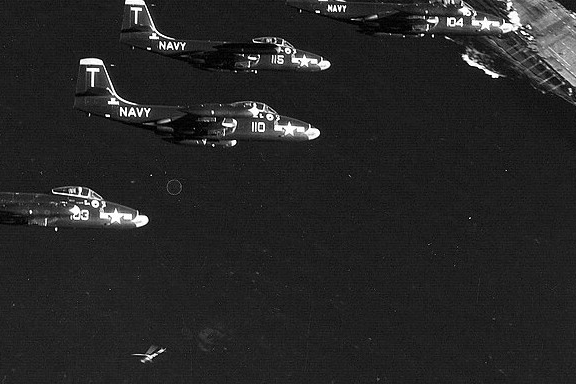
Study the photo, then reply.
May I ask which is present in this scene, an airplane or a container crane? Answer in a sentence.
The image shows an airplane.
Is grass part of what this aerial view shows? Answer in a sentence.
No, there's no grass in this view.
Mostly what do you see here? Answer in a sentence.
The bulk of the photo consists of water.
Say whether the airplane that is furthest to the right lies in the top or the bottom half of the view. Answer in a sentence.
It is in the top half that the airplane that is furthest to the right appears.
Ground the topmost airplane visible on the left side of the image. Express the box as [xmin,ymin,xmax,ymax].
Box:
[119,0,331,74]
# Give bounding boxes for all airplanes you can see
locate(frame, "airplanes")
[0,186,149,231]
[287,0,515,40]
[119,0,331,74]
[73,58,319,148]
